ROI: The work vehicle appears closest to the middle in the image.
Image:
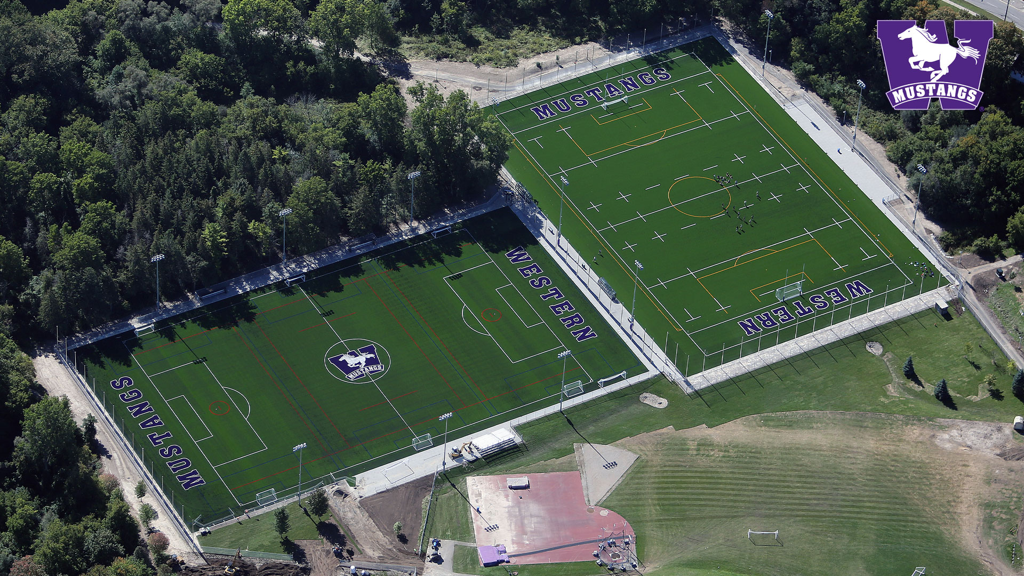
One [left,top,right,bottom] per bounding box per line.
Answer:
[449,441,469,462]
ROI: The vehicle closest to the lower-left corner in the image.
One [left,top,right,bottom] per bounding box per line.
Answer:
[168,553,189,567]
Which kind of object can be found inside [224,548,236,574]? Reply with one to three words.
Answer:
vehicle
